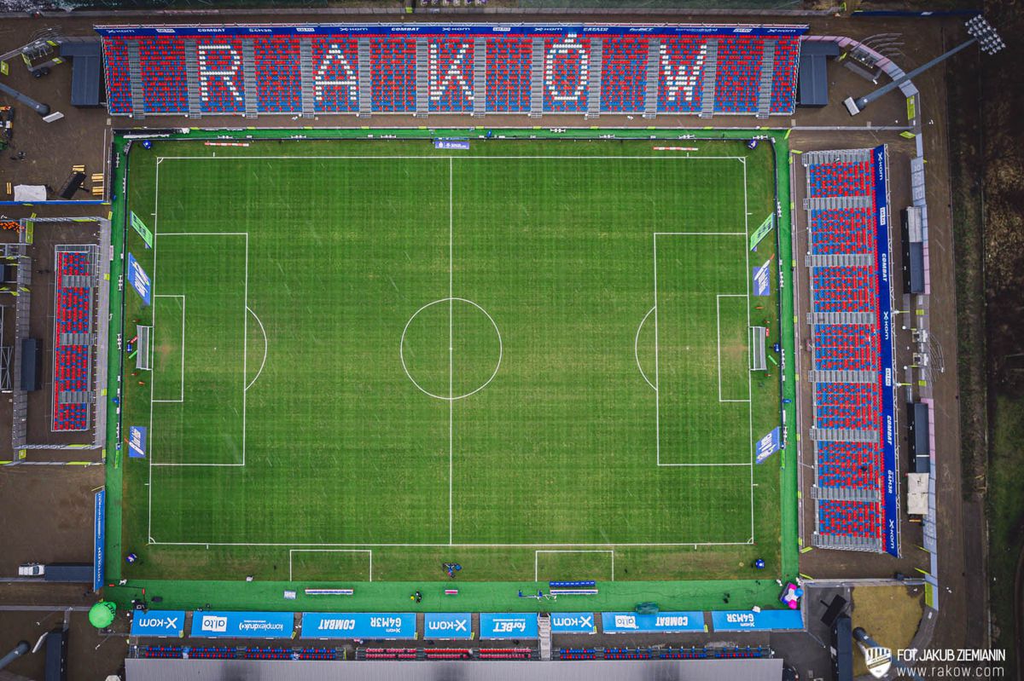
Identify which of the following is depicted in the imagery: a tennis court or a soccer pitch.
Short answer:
soccer pitch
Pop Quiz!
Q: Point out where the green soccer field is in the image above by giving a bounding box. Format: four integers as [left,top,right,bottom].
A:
[121,140,782,583]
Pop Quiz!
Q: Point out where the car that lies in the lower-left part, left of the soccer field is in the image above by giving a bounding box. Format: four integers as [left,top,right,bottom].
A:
[18,563,47,577]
